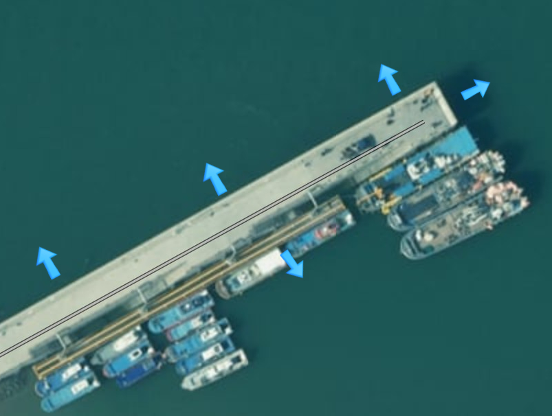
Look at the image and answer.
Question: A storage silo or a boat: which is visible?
boat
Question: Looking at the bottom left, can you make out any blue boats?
Yes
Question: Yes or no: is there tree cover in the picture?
No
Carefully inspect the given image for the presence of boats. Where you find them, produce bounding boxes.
[91,324,152,365]
[287,211,357,254]
[166,320,236,359]
[389,155,511,227]
[148,291,217,331]
[104,343,159,377]
[220,247,290,295]
[176,333,239,373]
[36,358,94,393]
[166,309,217,340]
[182,350,252,389]
[42,373,103,411]
[356,129,480,210]
[401,181,532,255]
